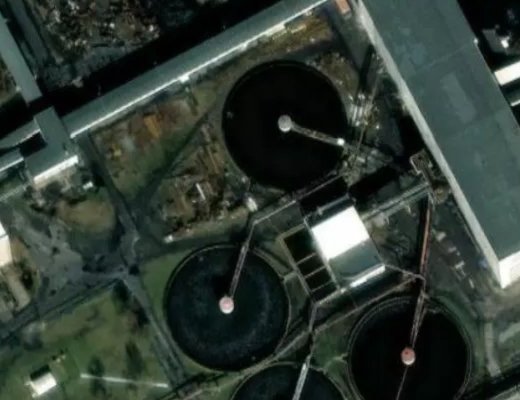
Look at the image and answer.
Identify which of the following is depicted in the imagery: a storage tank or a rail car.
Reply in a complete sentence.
Looking from above, you can make out a storage tank.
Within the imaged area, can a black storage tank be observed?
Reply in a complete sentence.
Yes, the frame does contain a black storage tank.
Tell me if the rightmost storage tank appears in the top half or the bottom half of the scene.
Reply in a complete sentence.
It is in the bottom half that the rightmost storage tank appears.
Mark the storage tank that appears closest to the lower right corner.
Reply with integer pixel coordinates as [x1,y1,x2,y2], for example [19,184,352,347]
[347,295,471,400]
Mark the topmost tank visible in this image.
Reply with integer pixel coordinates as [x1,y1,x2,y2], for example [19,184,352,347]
[222,65,347,190]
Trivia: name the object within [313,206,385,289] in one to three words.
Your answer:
building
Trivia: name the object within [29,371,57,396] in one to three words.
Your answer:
shed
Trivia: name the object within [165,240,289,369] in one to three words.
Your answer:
storage tank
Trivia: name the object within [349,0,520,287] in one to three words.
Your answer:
building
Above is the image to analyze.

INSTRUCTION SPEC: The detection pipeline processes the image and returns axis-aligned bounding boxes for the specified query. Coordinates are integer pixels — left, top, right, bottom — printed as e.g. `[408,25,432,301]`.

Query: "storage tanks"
[222,65,347,190]
[347,295,471,400]
[232,361,347,400]
[165,240,289,369]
